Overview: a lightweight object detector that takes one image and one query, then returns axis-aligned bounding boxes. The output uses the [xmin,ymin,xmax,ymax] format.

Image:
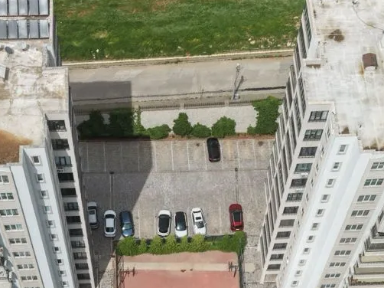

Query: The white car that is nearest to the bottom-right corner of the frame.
[191,207,207,234]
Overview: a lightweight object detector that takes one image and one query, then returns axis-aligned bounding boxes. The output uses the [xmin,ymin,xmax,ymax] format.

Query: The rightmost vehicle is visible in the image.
[230,203,244,232]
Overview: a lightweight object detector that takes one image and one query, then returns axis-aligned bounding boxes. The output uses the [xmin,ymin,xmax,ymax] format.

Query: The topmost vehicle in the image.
[207,135,221,163]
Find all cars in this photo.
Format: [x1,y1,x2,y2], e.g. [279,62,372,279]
[157,209,171,237]
[89,201,100,229]
[175,210,189,235]
[207,135,221,163]
[103,209,117,237]
[230,203,244,232]
[191,207,207,234]
[120,209,134,238]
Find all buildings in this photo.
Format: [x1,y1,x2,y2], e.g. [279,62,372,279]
[257,0,384,288]
[0,0,96,288]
